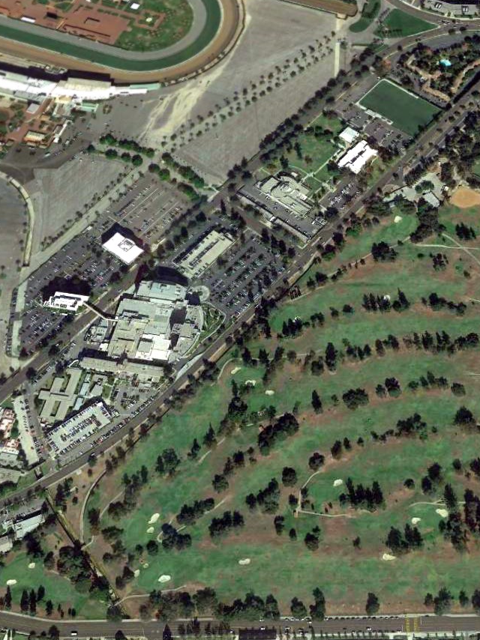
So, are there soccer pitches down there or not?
Yes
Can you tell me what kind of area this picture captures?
golf course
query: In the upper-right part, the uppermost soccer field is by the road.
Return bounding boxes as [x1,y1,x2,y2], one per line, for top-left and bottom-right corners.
[358,78,444,137]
